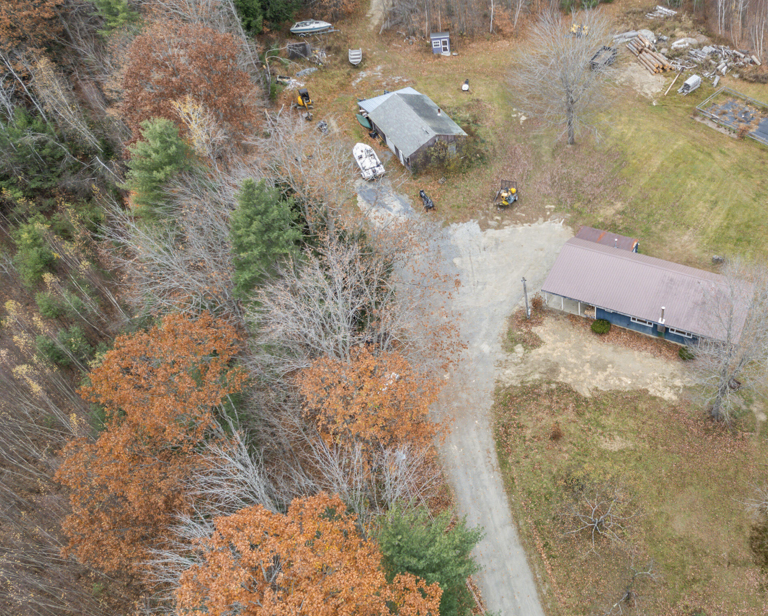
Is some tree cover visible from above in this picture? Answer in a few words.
Yes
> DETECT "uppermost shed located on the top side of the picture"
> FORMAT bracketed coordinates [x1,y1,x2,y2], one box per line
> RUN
[432,32,453,57]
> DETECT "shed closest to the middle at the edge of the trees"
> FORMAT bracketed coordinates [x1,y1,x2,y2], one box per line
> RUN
[356,87,468,172]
